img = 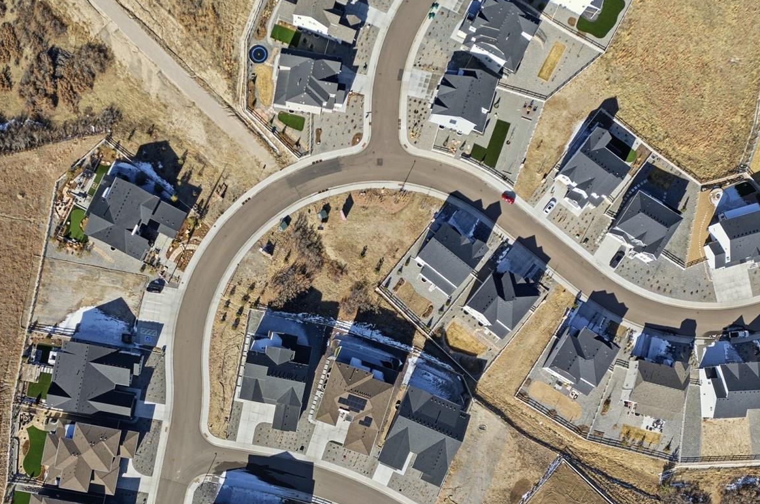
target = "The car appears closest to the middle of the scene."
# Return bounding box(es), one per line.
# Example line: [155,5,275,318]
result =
[499,189,519,205]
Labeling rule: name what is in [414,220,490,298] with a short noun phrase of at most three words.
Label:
house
